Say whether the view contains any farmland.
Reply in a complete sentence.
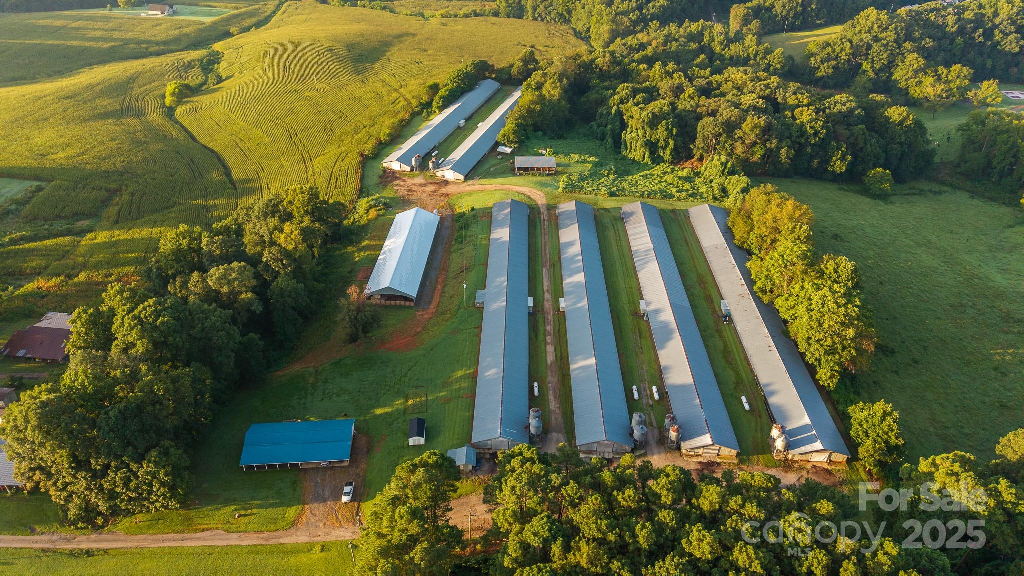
Yes, farmland shows up in the scene.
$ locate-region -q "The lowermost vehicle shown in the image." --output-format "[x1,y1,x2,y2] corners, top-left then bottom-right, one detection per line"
[339,480,356,503]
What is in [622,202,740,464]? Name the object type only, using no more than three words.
house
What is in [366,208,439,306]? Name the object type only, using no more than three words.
barn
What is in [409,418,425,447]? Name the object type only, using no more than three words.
shed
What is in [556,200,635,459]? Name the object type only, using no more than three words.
house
